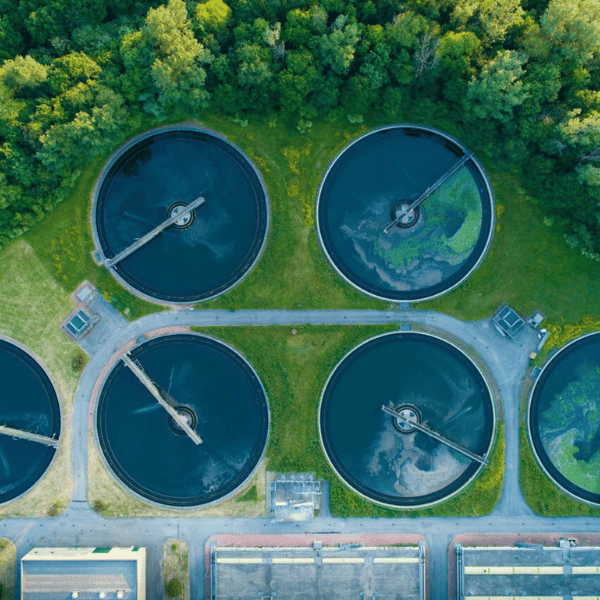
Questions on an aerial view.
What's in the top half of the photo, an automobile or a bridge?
bridge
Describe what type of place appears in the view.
industrial area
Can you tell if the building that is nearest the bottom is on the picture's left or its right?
left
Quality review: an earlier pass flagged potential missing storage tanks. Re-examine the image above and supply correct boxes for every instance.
[0,336,64,506]
[93,331,272,509]
[93,127,271,305]
[316,124,495,303]
[318,330,496,509]
[527,332,600,507]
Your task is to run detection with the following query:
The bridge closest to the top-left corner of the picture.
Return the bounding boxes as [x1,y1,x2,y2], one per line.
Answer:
[103,198,206,267]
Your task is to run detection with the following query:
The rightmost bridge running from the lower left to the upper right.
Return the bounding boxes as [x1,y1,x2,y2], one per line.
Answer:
[384,148,476,233]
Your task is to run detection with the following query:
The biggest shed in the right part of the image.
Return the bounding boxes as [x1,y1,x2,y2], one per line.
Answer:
[489,304,526,339]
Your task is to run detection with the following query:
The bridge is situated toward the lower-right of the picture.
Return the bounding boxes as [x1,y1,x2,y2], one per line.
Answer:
[382,405,492,469]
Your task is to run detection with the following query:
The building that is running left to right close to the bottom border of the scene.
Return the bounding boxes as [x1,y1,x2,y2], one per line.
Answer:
[21,547,146,600]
